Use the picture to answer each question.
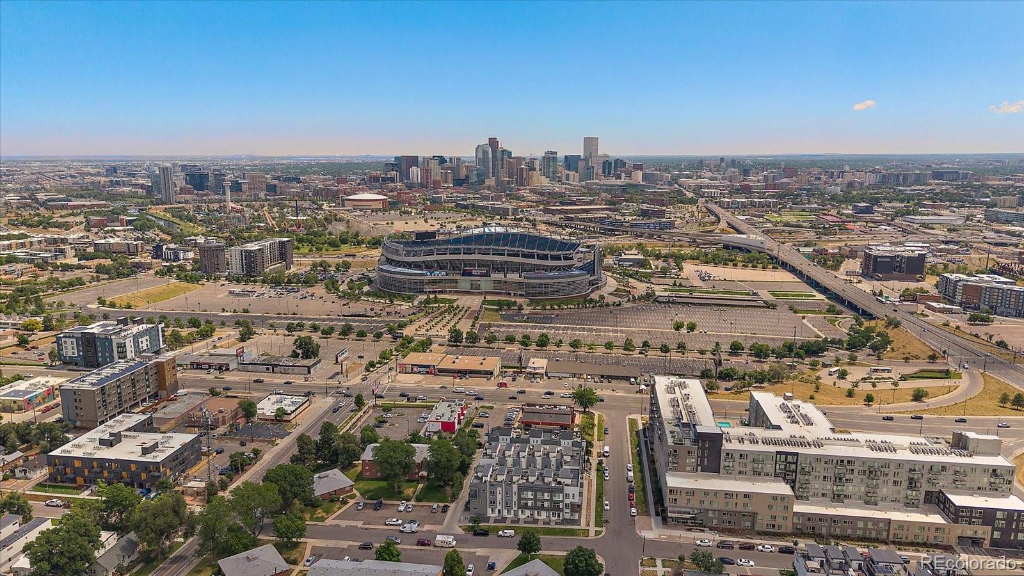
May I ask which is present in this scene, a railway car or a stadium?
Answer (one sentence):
Of the two, only a stadium appears.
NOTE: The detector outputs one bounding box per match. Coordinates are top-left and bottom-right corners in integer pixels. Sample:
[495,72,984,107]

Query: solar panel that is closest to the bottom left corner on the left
[63,367,135,388]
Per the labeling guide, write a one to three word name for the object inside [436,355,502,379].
building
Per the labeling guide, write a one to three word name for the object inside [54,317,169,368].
building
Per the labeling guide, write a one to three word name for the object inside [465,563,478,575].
vehicle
